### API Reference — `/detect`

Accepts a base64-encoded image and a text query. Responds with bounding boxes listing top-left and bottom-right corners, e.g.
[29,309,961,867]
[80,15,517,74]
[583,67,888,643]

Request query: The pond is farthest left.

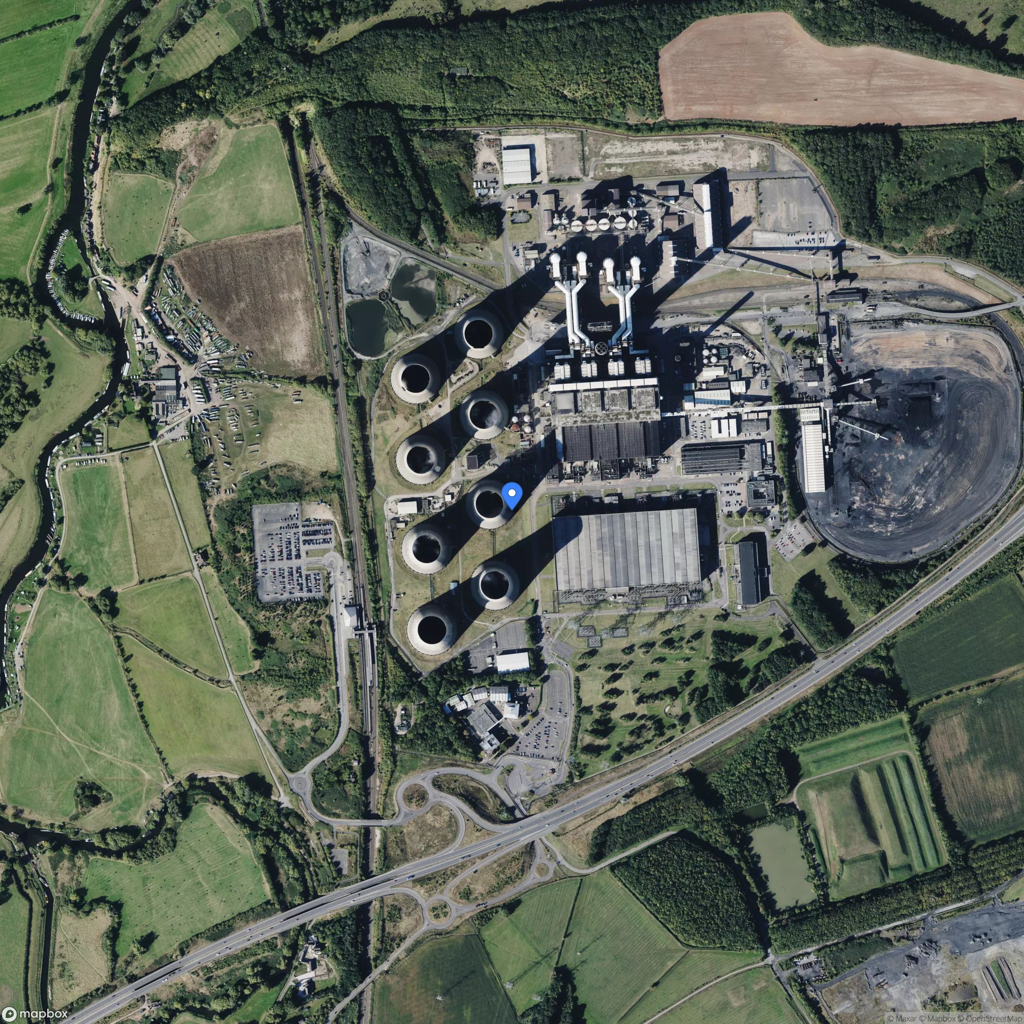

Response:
[347,299,387,357]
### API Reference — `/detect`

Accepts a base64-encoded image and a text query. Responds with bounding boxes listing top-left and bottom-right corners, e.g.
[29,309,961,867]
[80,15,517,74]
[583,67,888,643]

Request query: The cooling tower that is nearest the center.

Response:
[464,478,516,530]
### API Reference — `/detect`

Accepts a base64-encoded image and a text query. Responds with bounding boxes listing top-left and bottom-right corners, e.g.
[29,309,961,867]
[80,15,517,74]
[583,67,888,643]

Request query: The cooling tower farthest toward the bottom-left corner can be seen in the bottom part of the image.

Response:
[406,604,458,656]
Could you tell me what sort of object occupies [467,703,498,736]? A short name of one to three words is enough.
building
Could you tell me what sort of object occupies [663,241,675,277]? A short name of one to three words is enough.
shed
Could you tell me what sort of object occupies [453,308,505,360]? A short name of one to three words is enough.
cooling tower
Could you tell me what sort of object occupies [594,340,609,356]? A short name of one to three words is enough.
chimney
